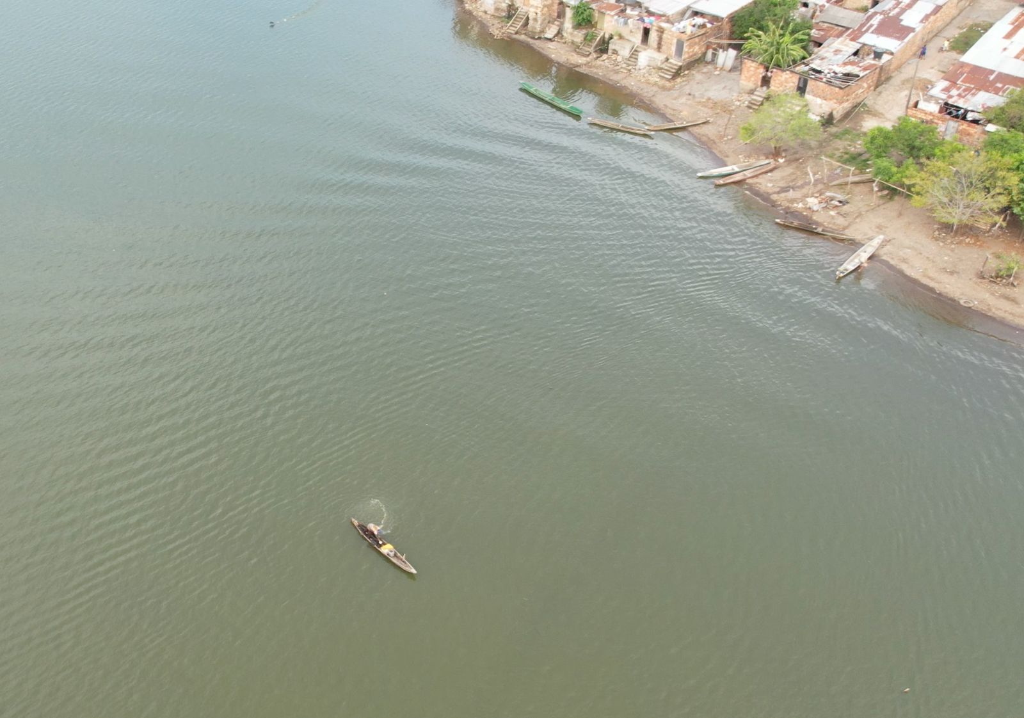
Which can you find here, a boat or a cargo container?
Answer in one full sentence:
The one in the frame is a boat.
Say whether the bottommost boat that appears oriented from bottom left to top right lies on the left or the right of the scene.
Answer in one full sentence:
It is on the right.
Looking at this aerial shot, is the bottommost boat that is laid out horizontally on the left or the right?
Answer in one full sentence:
The bottommost boat that is laid out horizontally appears in the right half of the scene.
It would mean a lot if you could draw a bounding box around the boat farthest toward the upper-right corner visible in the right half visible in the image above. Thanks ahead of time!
[828,172,881,189]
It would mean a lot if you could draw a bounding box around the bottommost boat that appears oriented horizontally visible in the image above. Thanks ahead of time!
[775,220,856,242]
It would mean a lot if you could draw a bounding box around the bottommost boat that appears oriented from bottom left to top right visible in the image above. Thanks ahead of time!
[836,235,884,280]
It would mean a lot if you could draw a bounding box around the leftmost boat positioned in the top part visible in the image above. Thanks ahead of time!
[519,81,582,117]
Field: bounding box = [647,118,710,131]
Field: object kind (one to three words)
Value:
boat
